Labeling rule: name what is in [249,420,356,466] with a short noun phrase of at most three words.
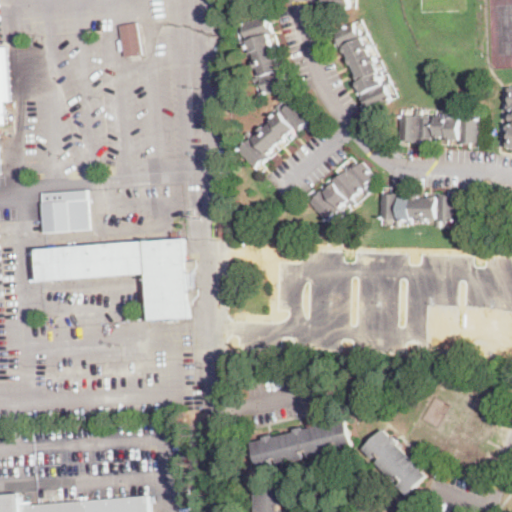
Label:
building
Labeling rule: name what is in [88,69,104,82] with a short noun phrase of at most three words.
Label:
vehicle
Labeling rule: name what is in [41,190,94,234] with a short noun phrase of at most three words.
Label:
building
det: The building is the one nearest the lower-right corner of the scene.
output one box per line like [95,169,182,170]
[360,430,429,494]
